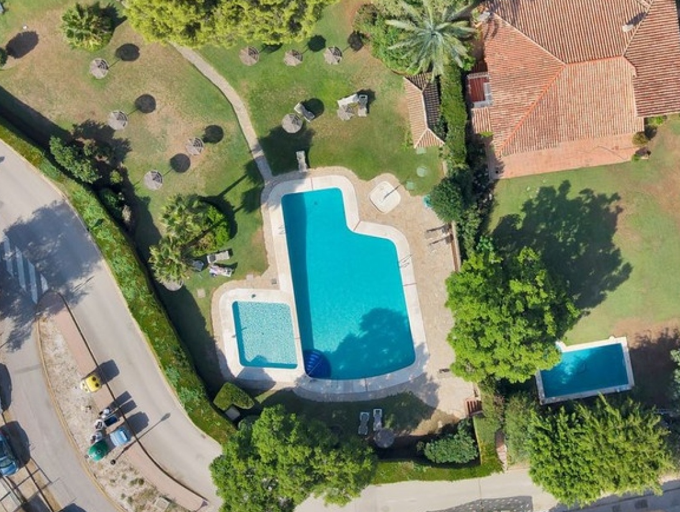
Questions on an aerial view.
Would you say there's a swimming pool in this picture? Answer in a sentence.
Yes, the photo shows a swimming pool.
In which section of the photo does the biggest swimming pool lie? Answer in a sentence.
The biggest swimming pool is in the center part of the image.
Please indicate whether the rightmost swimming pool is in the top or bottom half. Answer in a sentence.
Seen from above, the rightmost swimming pool lies in the bottom half of the view.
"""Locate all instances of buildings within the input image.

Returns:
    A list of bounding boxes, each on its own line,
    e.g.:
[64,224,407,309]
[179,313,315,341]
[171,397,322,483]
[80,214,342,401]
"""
[465,0,680,159]
[402,72,446,150]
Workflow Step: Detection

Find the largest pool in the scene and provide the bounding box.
[230,175,426,394]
